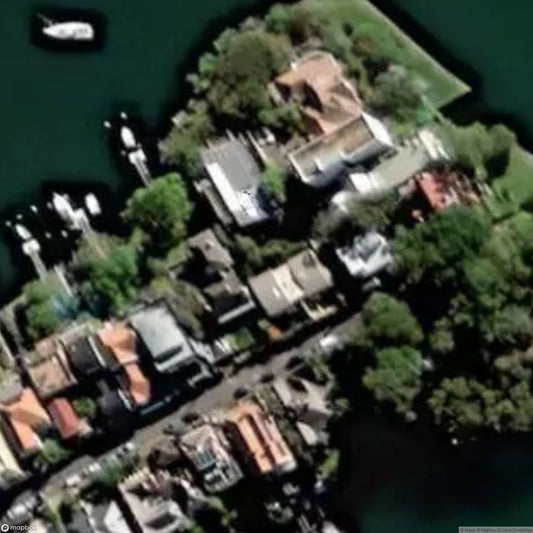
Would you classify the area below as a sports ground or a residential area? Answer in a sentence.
This image shows a residential area.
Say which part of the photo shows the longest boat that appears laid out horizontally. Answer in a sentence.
The longest boat that appears laid out horizontally appears toward the top left of the photo.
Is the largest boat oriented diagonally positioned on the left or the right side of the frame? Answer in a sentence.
It is on the left.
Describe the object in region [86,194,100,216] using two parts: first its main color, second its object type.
white boat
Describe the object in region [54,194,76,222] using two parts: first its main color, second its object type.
white boat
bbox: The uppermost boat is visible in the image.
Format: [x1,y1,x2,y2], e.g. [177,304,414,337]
[40,18,92,39]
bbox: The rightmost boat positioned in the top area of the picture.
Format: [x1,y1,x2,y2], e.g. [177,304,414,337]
[122,128,136,148]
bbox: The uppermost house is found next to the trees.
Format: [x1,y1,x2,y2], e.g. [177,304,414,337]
[268,50,363,132]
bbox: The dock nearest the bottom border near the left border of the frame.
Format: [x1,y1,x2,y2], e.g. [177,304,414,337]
[22,239,48,280]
